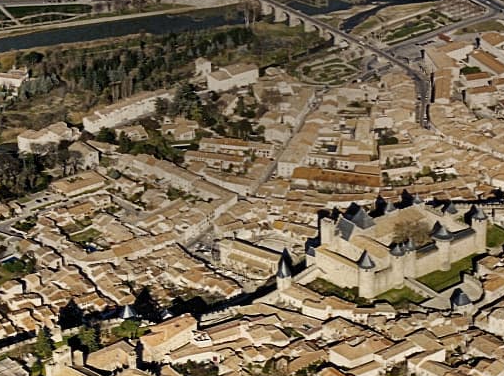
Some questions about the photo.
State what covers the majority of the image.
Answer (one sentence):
Most of the picture is covered by buildings.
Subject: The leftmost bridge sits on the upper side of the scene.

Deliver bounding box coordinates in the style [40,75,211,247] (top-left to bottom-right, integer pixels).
[255,0,413,78]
